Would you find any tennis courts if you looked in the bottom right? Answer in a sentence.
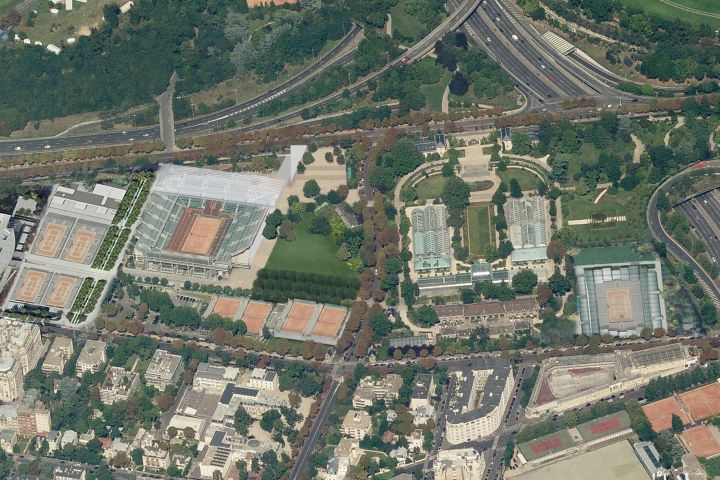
Yes, looking in the bottom right, one can make out a tennis court.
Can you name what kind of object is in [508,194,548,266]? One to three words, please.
greenhouse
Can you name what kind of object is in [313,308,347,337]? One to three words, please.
tennis court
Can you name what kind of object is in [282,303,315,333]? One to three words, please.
tennis court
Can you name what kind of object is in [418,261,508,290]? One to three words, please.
building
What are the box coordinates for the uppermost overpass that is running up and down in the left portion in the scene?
[162,65,179,157]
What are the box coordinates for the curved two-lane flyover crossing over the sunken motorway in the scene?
[323,0,480,103]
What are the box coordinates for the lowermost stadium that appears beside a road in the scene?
[574,261,670,341]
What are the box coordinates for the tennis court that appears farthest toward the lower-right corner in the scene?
[685,424,720,457]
